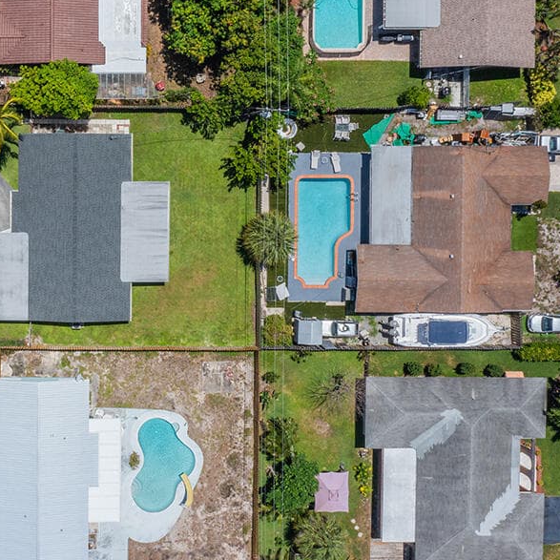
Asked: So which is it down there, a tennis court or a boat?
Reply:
boat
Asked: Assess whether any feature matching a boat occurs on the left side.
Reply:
No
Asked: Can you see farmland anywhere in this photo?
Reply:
No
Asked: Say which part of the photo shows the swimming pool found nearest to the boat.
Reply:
center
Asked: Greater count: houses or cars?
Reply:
houses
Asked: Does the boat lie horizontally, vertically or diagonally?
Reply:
horizontally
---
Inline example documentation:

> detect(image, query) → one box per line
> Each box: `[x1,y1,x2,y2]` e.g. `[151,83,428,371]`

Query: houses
[0,0,158,102]
[0,132,170,329]
[0,364,121,560]
[376,0,536,103]
[360,378,547,560]
[353,145,551,315]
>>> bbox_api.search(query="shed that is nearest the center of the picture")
[289,317,322,345]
